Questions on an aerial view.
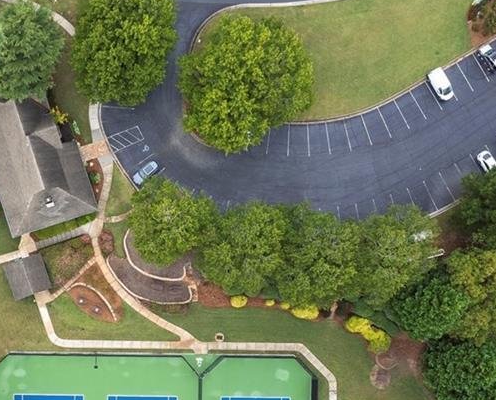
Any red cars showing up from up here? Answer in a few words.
No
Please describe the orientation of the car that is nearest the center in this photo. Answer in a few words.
at an angle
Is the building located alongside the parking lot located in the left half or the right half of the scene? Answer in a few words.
left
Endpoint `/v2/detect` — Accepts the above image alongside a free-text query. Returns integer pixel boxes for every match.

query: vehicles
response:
[474,147,496,175]
[427,64,453,101]
[477,40,496,74]
[131,158,162,186]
